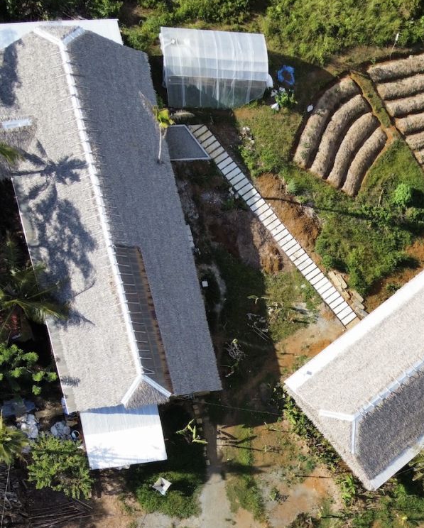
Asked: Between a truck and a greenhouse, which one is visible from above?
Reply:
greenhouse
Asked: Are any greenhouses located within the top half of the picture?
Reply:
Yes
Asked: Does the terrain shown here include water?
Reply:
No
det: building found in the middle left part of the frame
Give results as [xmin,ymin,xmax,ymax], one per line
[0,19,225,470]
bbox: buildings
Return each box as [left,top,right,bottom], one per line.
[157,29,271,106]
[0,19,225,470]
[284,273,424,489]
